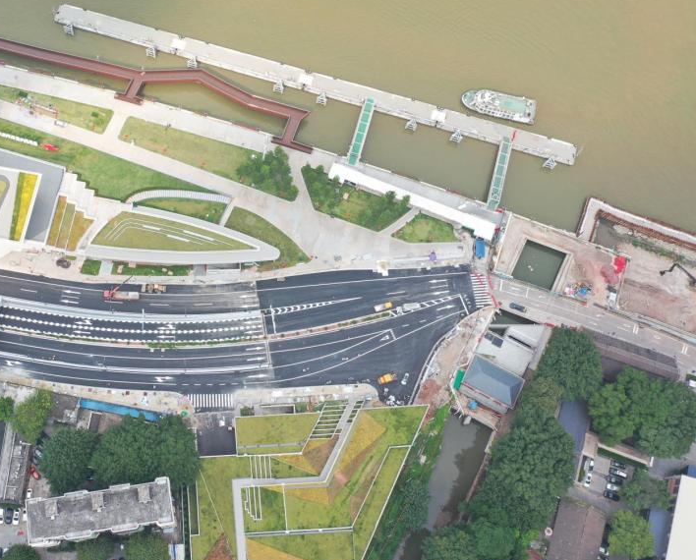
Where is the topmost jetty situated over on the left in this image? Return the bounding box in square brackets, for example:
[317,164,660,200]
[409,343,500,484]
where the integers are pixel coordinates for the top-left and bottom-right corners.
[55,4,184,57]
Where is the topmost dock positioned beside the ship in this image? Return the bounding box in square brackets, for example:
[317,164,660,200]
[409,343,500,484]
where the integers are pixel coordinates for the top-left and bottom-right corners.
[304,73,438,128]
